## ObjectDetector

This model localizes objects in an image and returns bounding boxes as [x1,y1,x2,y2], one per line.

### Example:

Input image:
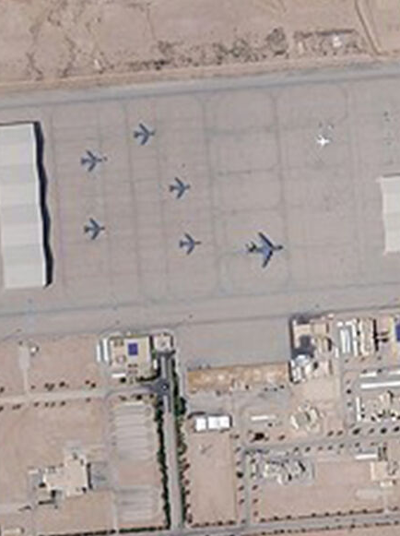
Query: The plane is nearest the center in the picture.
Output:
[180,233,201,255]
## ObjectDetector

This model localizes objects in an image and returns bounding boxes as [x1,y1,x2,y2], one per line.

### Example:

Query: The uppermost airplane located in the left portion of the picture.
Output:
[133,124,154,145]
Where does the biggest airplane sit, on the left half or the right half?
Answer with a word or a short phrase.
right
